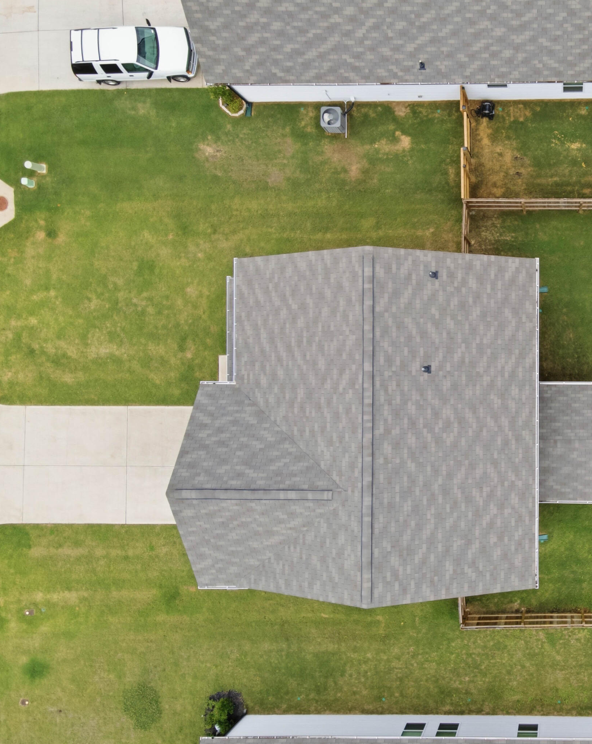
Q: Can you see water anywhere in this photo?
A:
No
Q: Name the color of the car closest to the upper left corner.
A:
white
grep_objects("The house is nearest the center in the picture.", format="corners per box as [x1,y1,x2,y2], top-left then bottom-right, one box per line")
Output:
[168,247,592,609]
